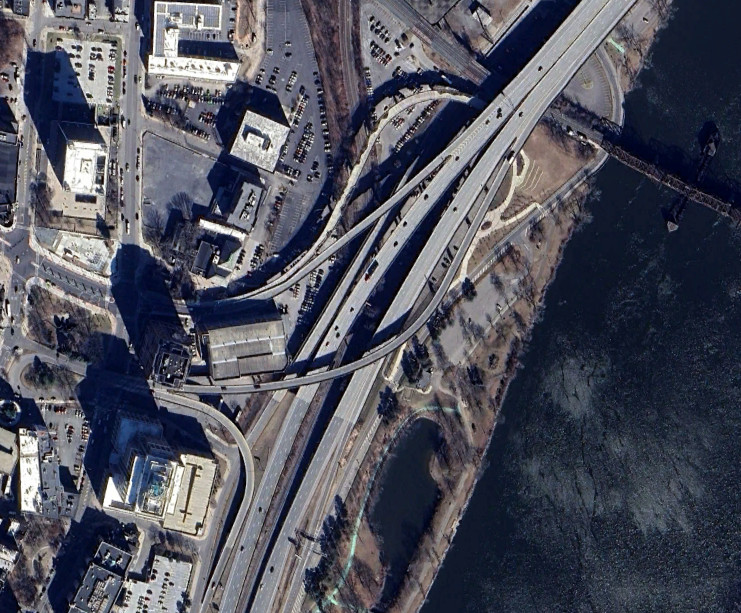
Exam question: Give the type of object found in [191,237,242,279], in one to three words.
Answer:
house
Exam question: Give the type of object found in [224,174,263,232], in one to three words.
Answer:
building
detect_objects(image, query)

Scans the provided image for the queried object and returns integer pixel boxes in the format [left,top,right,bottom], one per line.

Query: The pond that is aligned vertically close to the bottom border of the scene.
[371,418,441,613]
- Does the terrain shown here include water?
Yes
